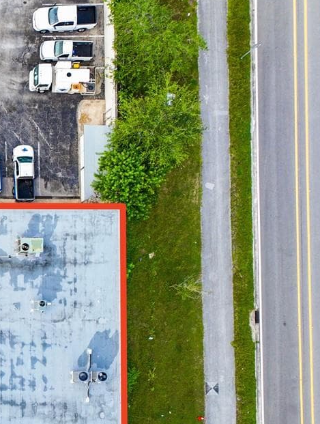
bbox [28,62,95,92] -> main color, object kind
white truck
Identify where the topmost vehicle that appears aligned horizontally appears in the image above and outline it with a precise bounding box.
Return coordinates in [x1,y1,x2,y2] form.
[32,3,98,33]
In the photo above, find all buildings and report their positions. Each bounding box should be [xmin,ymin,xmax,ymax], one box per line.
[0,206,124,424]
[79,125,115,205]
